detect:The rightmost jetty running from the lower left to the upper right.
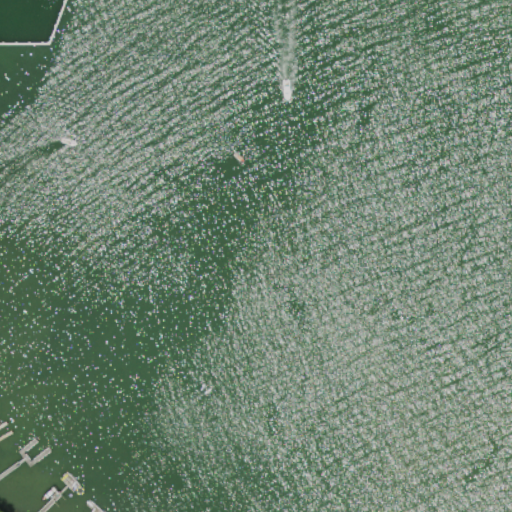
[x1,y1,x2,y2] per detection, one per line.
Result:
[34,471,84,512]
